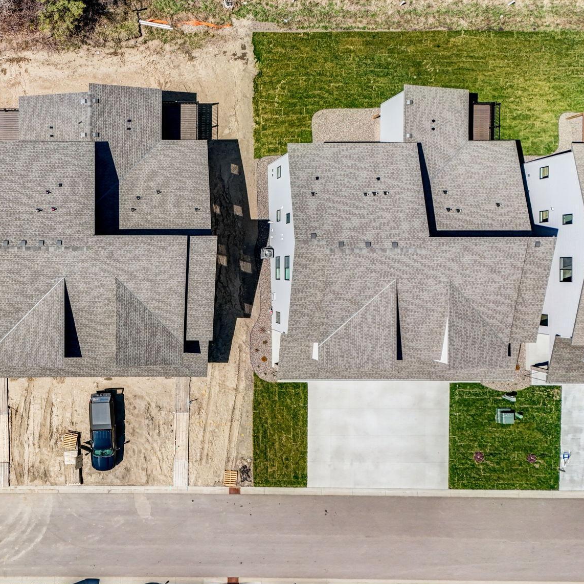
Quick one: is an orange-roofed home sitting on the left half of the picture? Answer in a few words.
No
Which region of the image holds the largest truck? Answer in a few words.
bottom left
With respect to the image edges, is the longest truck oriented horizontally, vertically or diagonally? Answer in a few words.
vertically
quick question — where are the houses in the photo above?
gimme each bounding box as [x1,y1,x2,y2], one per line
[271,85,556,381]
[0,83,218,378]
